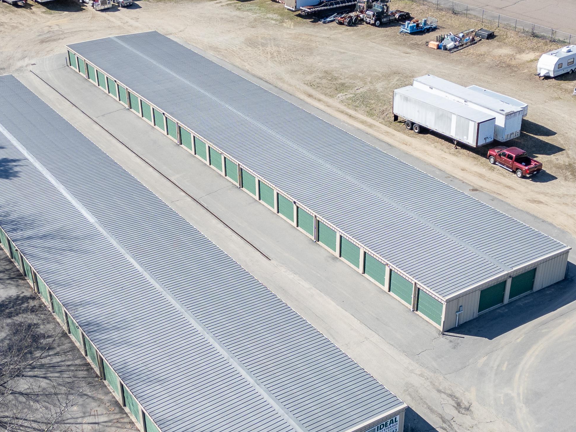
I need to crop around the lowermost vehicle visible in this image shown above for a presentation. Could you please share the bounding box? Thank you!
[484,147,545,178]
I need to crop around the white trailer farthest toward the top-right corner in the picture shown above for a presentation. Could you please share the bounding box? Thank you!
[538,45,576,83]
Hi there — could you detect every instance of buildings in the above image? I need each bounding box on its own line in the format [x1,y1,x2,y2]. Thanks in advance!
[64,29,573,331]
[0,72,410,432]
